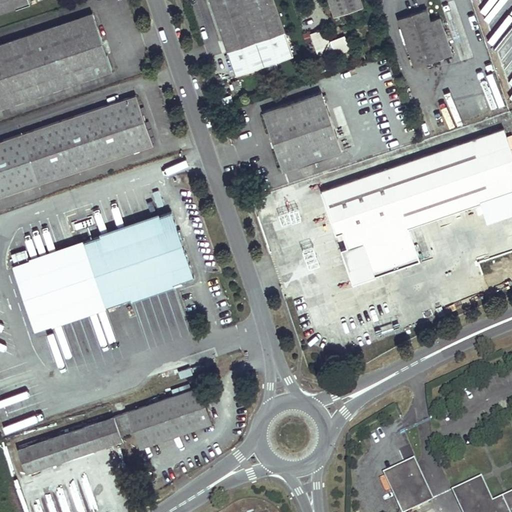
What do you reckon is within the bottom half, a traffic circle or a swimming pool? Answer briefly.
traffic circle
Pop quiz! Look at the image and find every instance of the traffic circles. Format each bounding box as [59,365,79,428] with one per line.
[231,375,353,500]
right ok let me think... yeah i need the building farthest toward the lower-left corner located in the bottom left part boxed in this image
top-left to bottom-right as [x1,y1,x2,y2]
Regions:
[18,420,122,478]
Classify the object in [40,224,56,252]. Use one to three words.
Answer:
vehicle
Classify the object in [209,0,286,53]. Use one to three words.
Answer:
building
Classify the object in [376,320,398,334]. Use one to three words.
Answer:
vehicle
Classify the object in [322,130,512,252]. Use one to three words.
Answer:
warehouse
